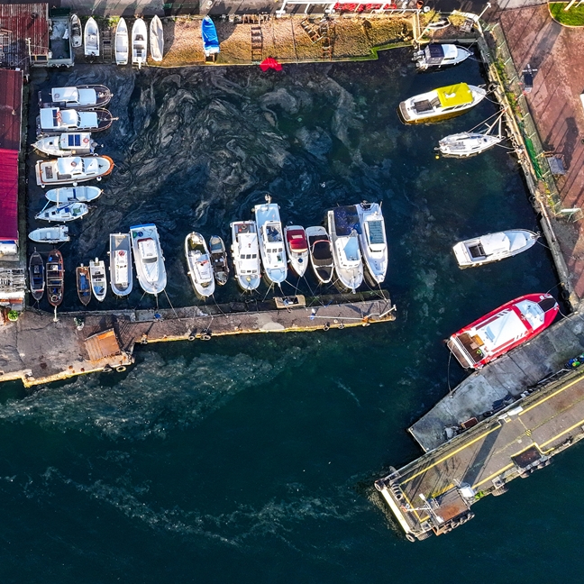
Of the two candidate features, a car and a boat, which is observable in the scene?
boat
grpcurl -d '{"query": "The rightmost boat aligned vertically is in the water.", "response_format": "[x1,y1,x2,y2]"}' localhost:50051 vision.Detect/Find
[354,197,391,298]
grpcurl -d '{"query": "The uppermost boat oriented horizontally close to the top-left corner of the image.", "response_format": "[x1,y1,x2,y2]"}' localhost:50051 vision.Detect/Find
[34,82,115,109]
